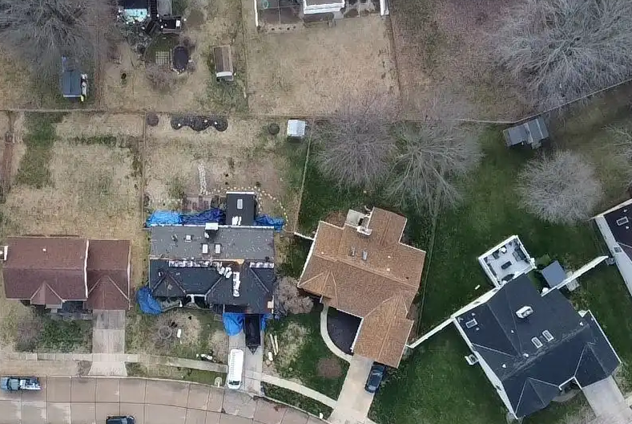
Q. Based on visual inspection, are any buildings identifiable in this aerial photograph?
Yes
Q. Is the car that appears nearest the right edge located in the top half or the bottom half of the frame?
bottom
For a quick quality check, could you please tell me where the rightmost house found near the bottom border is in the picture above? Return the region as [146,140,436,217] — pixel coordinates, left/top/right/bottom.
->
[453,276,619,418]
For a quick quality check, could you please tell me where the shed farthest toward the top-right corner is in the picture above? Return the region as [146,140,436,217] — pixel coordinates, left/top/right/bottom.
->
[504,117,550,152]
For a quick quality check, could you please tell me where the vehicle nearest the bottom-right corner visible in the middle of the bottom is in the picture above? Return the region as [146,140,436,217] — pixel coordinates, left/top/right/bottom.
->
[364,362,384,392]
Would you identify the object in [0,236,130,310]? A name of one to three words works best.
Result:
house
